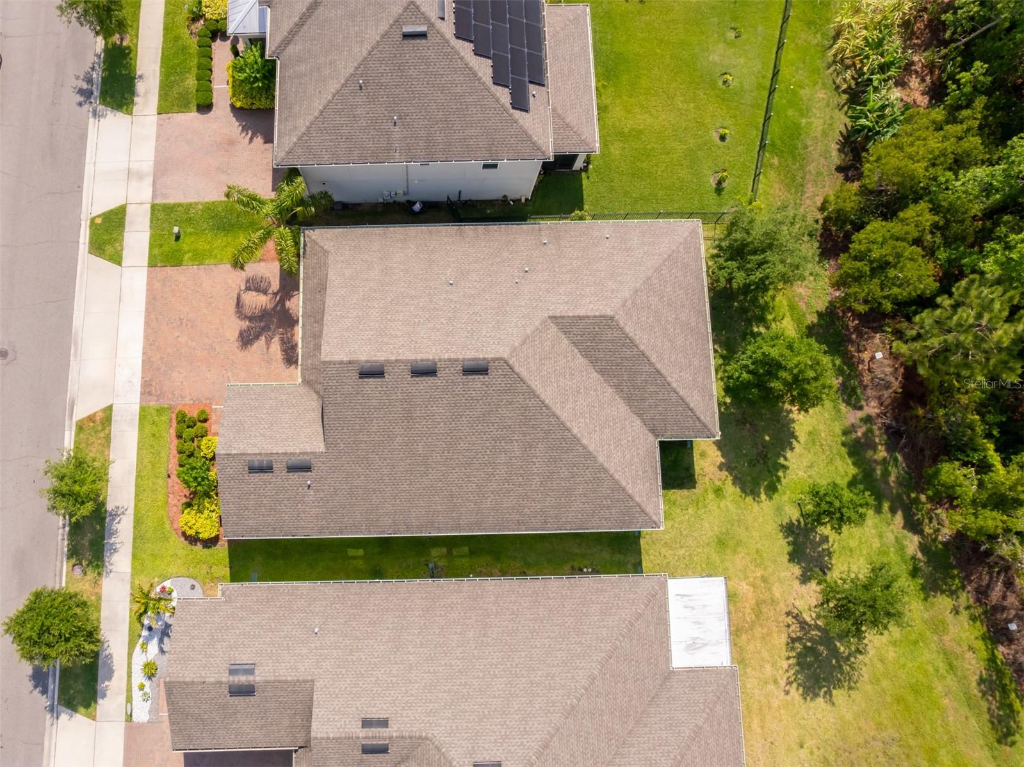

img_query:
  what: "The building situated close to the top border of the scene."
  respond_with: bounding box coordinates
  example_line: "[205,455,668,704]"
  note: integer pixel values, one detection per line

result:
[226,0,601,203]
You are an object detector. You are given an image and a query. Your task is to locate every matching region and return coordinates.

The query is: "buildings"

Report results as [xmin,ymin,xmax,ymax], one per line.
[216,218,723,539]
[163,573,750,767]
[226,0,601,203]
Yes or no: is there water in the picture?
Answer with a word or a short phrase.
No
